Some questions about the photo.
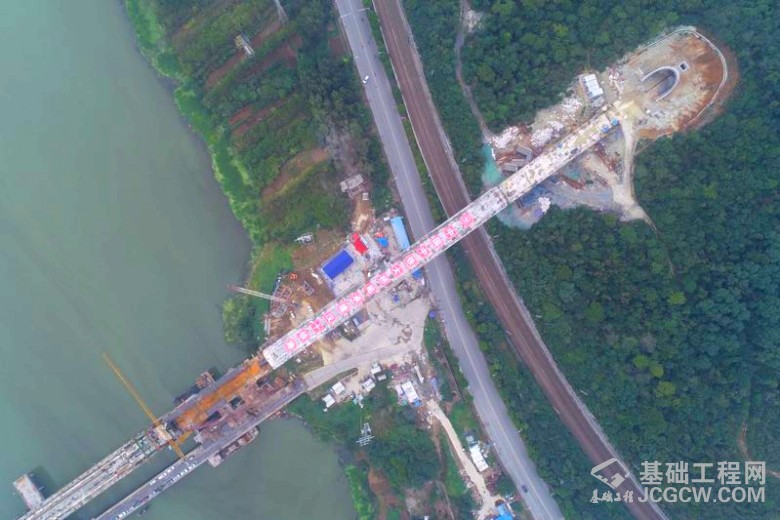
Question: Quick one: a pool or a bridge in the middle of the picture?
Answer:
bridge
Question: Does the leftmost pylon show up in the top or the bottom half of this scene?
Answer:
top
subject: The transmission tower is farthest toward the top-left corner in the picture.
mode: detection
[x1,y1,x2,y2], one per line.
[235,29,257,59]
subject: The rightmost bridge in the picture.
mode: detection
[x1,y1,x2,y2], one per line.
[262,100,628,369]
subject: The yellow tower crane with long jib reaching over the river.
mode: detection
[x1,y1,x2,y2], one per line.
[101,352,193,460]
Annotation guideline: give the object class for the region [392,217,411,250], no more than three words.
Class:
shed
